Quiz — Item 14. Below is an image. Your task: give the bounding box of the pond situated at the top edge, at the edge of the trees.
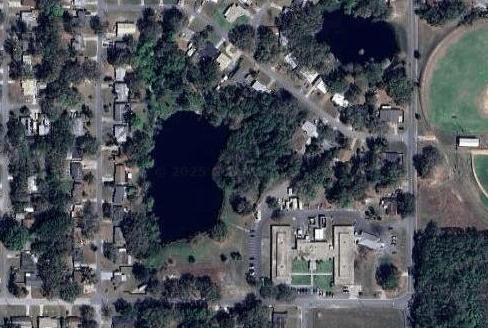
[317,9,398,64]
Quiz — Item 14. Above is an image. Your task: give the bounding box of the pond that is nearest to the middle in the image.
[150,111,229,242]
